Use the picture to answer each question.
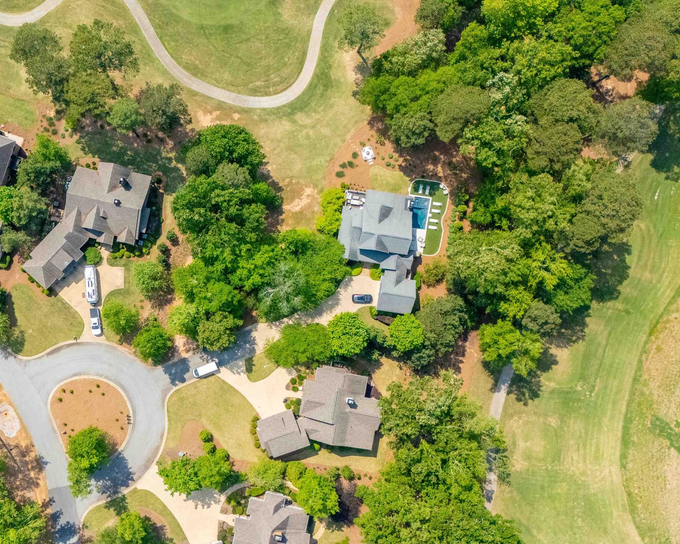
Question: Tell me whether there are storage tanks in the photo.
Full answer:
No, this view has no storage tank in it.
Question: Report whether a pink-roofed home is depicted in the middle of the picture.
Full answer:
No, no pink-roofed home appears in the middle of the picture.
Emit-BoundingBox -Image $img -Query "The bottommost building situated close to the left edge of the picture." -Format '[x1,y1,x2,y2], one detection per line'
[19,163,152,294]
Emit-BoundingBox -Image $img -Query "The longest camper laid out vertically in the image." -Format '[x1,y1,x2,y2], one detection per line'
[83,265,99,307]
